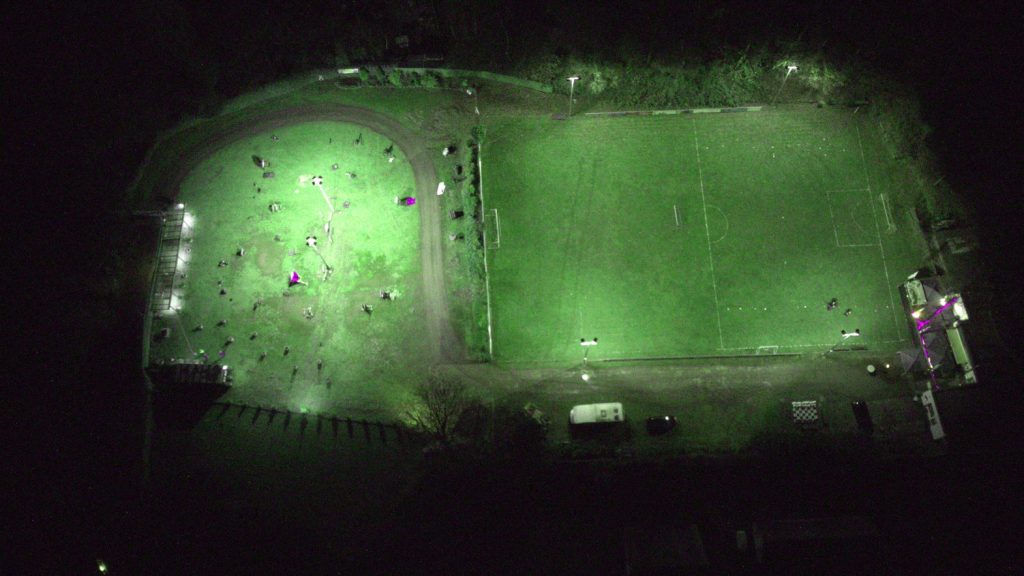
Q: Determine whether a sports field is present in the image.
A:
Yes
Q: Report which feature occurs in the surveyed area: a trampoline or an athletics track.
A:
athletics track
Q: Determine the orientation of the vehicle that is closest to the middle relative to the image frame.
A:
horizontally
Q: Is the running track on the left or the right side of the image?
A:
left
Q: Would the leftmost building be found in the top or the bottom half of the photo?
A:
bottom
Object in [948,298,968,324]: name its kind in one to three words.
building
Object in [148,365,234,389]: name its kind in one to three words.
building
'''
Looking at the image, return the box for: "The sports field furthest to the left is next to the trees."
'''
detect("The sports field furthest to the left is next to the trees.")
[148,122,469,436]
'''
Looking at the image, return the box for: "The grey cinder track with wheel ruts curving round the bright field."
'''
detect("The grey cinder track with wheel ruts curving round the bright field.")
[160,100,449,367]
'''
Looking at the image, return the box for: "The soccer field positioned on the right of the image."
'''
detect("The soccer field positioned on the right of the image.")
[482,107,906,364]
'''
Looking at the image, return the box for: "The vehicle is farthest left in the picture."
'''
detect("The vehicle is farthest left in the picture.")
[568,402,625,427]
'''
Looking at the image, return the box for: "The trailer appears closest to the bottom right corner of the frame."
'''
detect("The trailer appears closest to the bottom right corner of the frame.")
[923,385,950,436]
